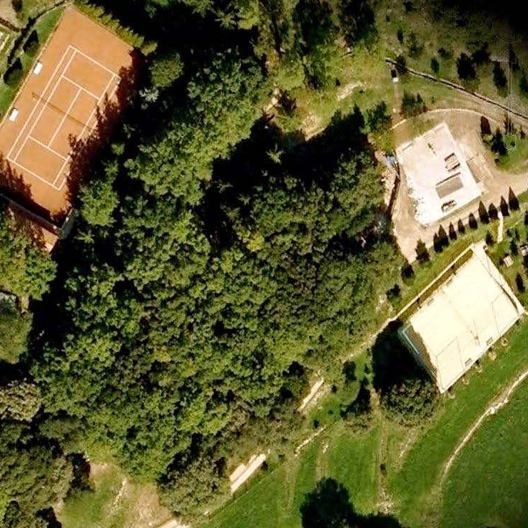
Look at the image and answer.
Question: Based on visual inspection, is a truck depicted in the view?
No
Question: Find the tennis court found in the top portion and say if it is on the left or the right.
left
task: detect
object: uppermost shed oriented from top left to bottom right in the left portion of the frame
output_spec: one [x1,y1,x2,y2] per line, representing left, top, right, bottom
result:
[0,201,59,251]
